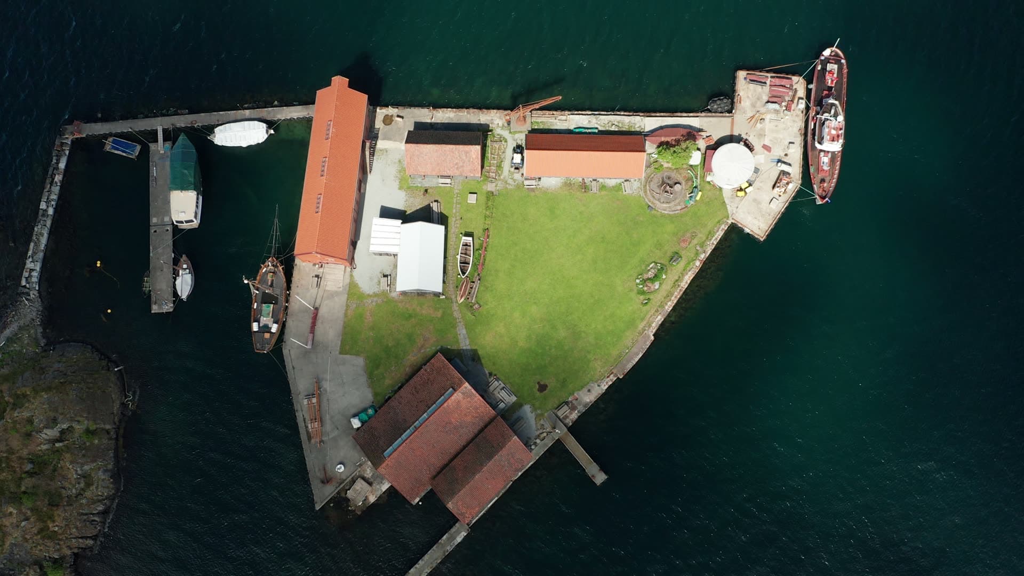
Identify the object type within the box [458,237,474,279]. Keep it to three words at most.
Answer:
boat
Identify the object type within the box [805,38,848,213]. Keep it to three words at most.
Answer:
ship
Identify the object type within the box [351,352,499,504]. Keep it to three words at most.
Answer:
building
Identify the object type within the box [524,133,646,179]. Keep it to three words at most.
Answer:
shed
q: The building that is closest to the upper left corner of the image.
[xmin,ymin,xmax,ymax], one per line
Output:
[294,75,370,266]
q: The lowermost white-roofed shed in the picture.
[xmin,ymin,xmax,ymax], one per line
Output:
[396,222,445,294]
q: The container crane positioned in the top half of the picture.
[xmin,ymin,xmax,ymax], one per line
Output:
[502,95,562,133]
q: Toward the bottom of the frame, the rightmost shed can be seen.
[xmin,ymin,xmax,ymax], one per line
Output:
[432,417,532,524]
